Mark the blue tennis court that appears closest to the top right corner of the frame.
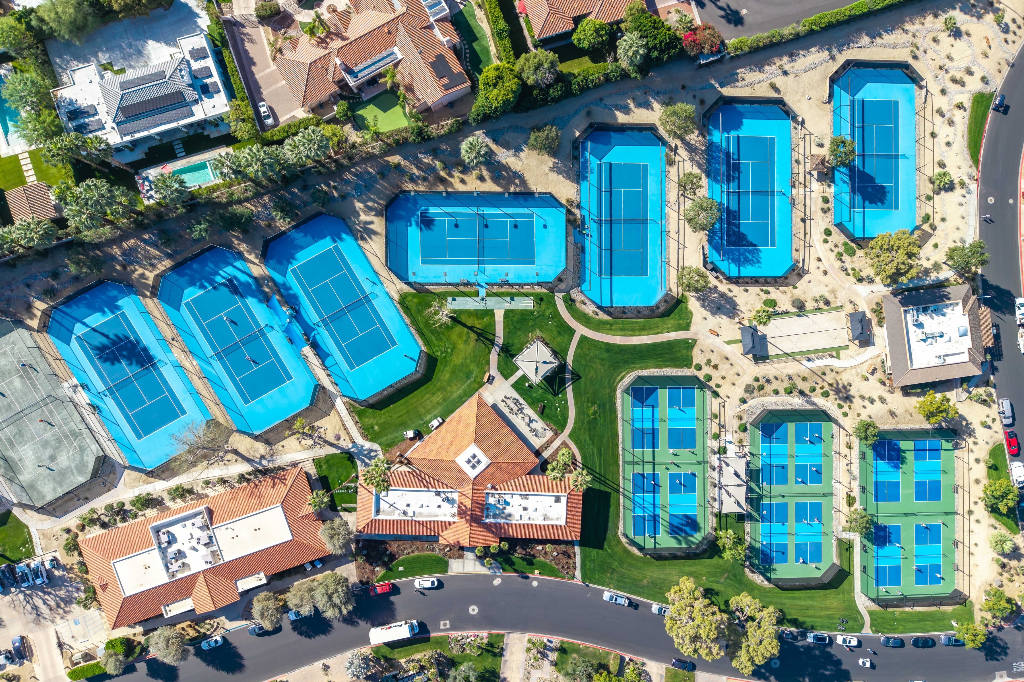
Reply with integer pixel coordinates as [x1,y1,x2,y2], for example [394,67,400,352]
[833,68,916,235]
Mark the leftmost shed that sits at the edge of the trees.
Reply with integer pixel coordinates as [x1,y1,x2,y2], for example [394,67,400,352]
[5,181,65,220]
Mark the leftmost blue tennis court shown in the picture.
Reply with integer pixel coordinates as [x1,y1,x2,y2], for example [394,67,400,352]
[47,281,212,470]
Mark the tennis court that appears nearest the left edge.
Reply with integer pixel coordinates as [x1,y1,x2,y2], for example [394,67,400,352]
[0,318,104,509]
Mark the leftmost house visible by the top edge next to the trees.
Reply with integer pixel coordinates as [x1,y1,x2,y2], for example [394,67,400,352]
[50,32,233,161]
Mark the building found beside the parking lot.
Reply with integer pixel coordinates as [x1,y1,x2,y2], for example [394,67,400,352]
[78,467,332,631]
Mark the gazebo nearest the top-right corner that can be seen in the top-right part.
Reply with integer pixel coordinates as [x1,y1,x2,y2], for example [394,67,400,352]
[804,154,827,174]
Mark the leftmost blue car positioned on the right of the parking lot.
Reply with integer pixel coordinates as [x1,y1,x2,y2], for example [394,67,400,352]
[200,635,225,650]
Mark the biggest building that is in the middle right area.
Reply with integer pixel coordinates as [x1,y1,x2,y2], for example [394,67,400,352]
[878,283,985,387]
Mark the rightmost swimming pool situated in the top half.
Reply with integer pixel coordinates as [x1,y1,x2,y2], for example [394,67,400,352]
[172,159,216,184]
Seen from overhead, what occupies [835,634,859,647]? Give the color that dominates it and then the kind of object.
white vehicle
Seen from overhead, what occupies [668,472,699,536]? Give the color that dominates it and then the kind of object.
blue sports court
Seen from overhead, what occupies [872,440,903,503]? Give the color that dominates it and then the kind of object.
blue sports court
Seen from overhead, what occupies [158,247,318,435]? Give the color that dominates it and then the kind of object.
blue tennis court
